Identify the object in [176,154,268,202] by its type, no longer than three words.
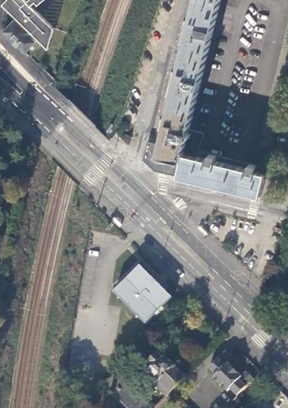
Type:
building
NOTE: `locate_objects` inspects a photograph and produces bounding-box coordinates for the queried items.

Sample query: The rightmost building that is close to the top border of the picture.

[154,0,227,163]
